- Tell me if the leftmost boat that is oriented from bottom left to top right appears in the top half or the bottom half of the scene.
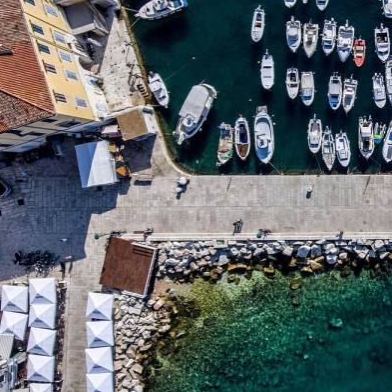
top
